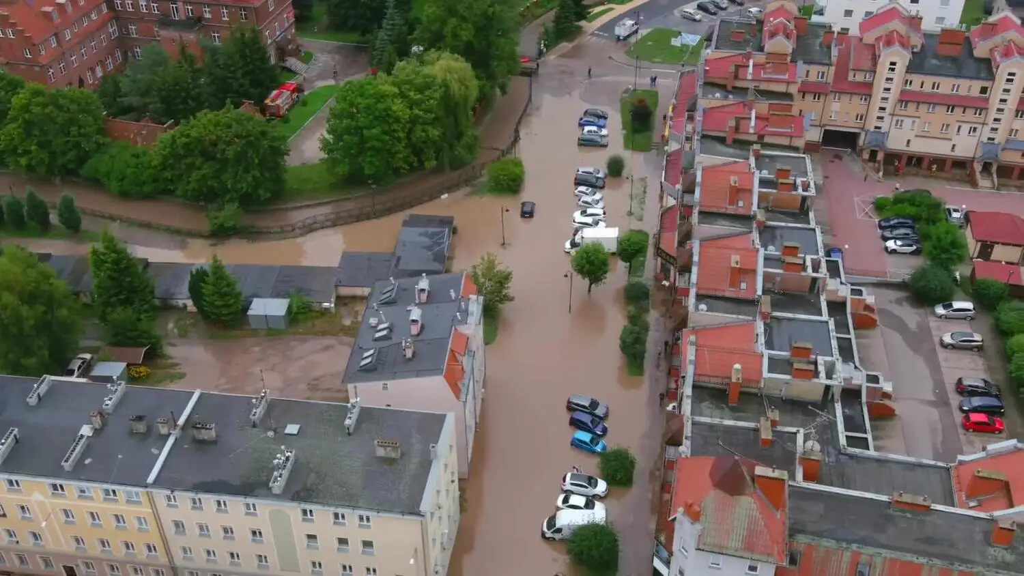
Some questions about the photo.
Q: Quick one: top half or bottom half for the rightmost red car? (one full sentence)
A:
The rightmost red car is in the bottom half of the image.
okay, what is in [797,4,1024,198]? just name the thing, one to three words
building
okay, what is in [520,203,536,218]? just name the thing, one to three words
car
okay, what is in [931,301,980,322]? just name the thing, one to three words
car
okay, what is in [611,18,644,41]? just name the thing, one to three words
truck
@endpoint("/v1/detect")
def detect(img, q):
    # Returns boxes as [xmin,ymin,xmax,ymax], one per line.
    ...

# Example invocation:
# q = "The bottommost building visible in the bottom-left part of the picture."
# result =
[0,374,456,576]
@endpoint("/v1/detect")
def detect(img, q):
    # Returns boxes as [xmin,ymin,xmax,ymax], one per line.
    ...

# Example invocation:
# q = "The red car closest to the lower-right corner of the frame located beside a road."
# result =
[959,413,1006,437]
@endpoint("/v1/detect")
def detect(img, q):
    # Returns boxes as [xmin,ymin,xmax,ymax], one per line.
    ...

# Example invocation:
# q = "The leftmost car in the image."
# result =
[64,351,99,374]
